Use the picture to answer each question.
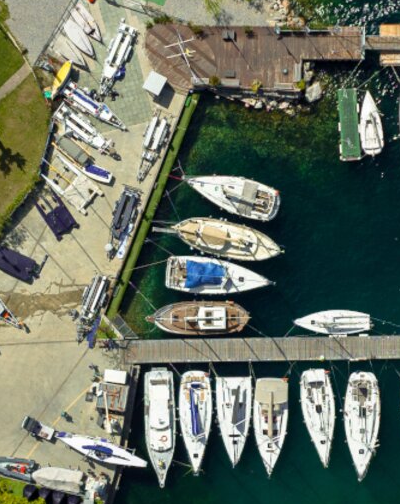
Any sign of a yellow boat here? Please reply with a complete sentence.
Yes, the photo shows a yellow boat.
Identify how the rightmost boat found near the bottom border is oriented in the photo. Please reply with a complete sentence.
What the image shows is the rightmost boat found near the bottom border lying vertically.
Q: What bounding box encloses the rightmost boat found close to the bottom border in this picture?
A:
[340,361,381,485]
